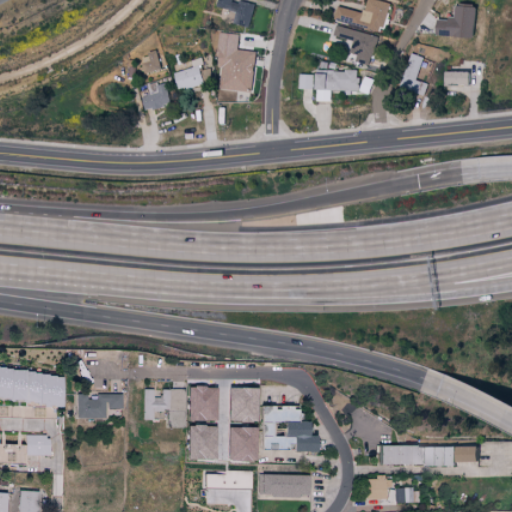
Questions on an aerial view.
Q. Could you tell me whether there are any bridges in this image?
Yes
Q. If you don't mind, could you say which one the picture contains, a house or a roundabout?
house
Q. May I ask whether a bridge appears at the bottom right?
Yes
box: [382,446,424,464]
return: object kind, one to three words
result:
shed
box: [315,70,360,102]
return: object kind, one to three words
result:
house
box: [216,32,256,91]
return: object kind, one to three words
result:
house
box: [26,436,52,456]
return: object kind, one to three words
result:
building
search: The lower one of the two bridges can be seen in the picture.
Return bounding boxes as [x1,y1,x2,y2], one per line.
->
[422,370,512,435]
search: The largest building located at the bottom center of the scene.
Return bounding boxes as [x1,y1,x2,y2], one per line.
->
[264,406,320,452]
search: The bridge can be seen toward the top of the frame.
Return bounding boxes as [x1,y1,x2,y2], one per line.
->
[460,155,512,185]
